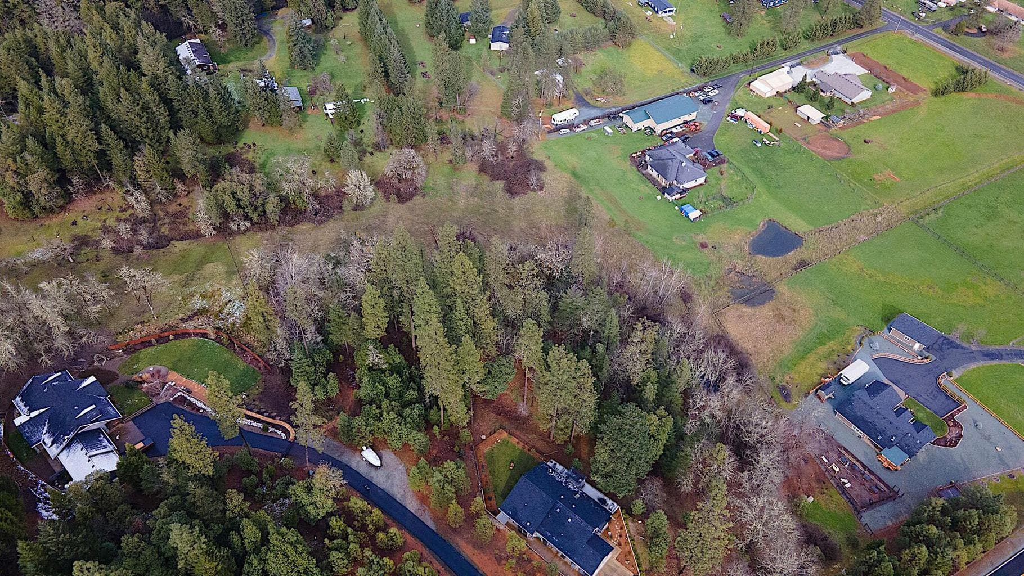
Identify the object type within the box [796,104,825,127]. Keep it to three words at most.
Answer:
shed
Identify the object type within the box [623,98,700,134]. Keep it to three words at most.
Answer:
barn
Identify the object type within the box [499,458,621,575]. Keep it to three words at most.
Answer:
house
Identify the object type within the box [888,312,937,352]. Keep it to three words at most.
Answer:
building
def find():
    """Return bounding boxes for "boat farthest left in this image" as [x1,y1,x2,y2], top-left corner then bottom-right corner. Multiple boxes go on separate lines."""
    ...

[358,444,378,463]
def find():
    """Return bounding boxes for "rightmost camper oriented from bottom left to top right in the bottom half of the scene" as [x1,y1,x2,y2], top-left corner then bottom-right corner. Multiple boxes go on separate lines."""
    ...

[839,355,877,384]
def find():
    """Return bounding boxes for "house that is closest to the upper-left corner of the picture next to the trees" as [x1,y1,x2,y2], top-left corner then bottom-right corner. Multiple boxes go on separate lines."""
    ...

[176,37,220,83]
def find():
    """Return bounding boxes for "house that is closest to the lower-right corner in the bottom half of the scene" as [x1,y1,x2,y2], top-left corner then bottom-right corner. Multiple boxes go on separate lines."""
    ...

[833,376,934,459]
